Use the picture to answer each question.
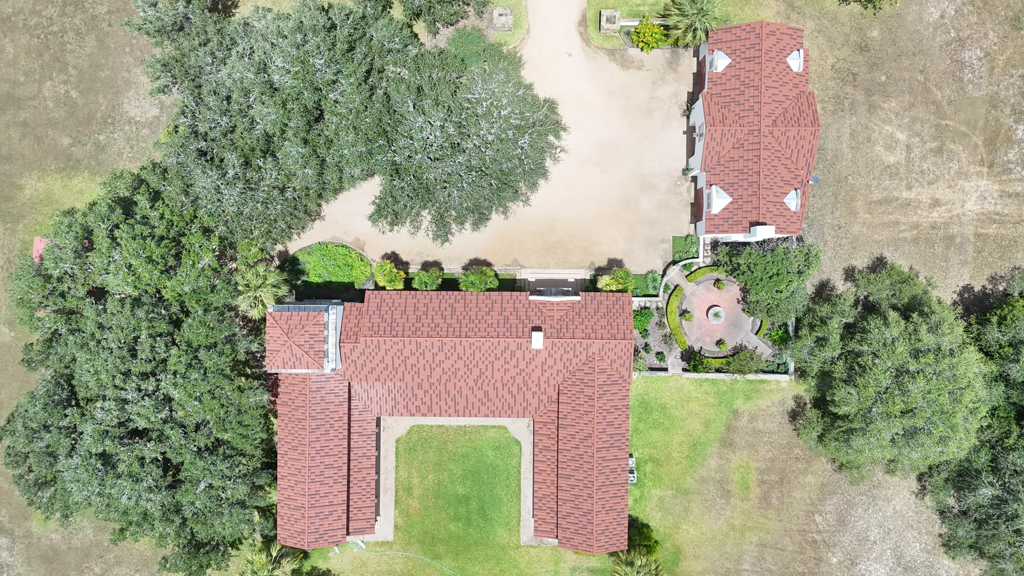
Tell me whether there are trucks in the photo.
No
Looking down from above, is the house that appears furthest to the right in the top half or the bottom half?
top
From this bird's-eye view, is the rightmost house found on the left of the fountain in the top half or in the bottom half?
bottom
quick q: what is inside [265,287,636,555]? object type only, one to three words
house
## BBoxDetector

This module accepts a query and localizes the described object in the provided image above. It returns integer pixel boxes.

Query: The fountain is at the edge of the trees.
[707,306,725,324]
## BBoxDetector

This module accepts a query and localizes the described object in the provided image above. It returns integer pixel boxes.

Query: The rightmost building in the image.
[690,19,821,241]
